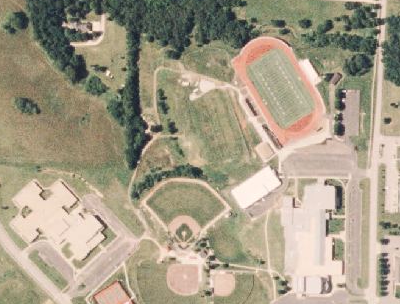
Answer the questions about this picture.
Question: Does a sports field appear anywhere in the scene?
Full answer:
Yes, the image includes a sports field.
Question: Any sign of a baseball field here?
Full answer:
Yes, a baseball field appears in the view.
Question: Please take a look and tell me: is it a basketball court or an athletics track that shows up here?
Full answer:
There is an athletics track in the scene.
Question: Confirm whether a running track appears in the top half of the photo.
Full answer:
Yes, a running track can be seen in the top half of the photo.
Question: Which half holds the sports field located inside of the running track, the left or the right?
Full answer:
The sports field located inside of the running track appears in the right half of the scene.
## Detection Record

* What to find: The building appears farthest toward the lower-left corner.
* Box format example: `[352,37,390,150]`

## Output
[9,180,106,260]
